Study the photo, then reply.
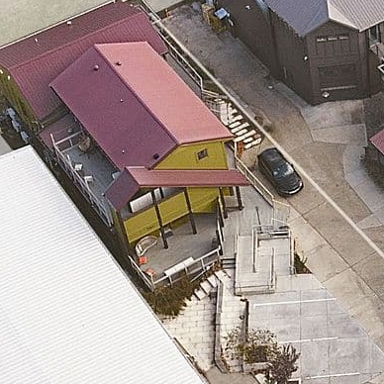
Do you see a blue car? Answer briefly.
No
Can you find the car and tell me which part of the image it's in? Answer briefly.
right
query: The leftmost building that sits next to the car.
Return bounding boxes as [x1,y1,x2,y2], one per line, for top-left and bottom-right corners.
[0,0,252,286]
